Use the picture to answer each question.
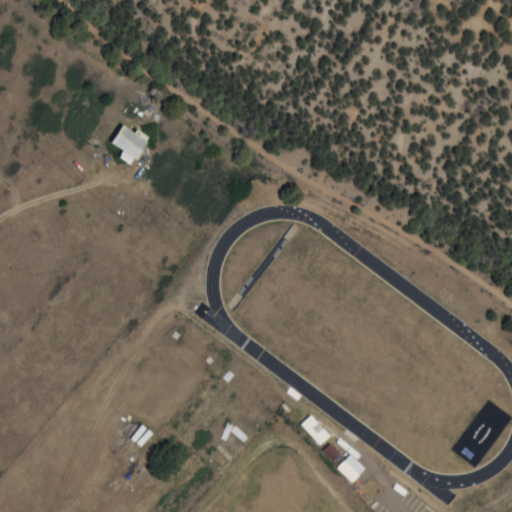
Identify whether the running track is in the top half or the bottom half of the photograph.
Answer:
bottom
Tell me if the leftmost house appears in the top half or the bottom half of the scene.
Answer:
top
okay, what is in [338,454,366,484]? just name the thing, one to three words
building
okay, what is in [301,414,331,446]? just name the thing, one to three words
building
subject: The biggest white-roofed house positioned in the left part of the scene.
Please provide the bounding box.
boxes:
[111,124,150,164]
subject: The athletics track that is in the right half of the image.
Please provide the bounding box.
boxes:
[196,206,512,504]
